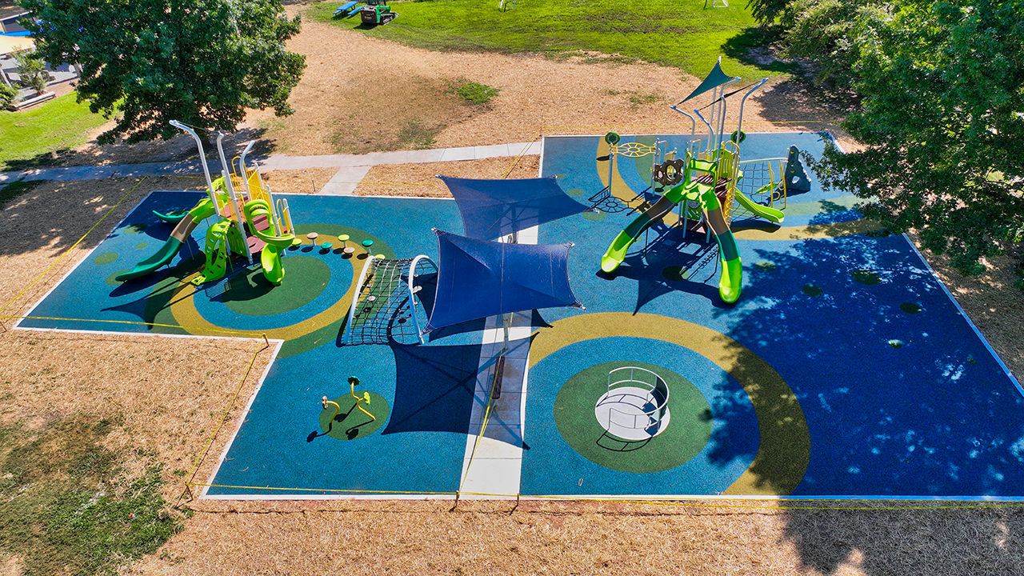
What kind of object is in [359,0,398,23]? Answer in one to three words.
work vehicle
